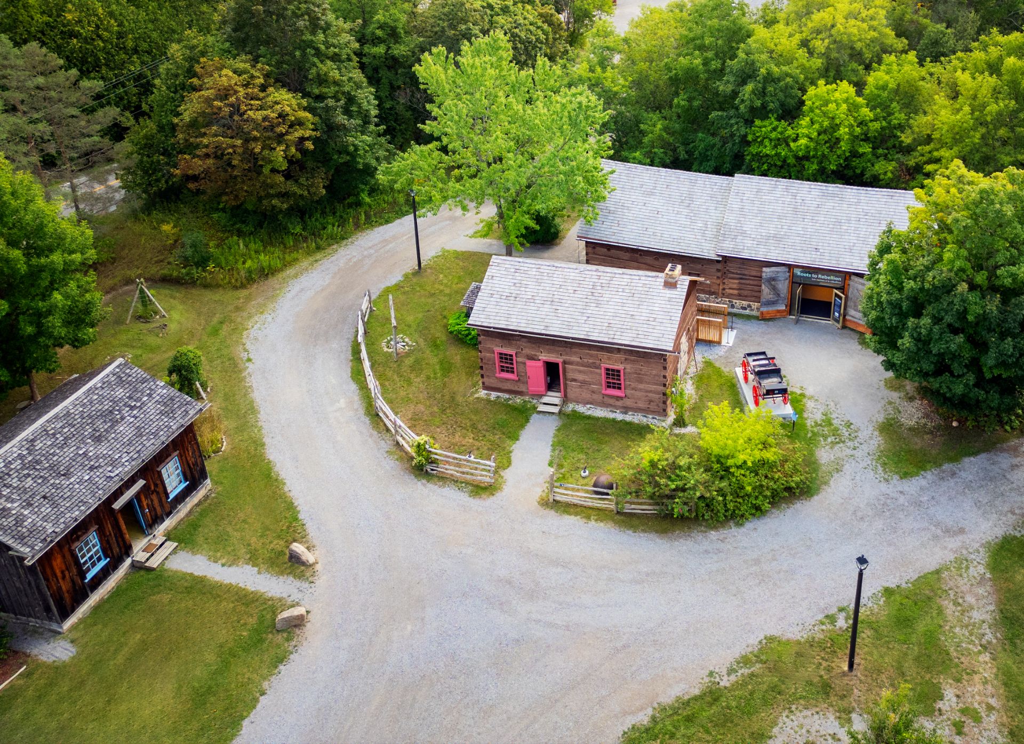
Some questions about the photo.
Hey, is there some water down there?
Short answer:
No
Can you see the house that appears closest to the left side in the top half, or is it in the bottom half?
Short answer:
bottom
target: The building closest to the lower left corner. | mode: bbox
[0,356,215,633]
